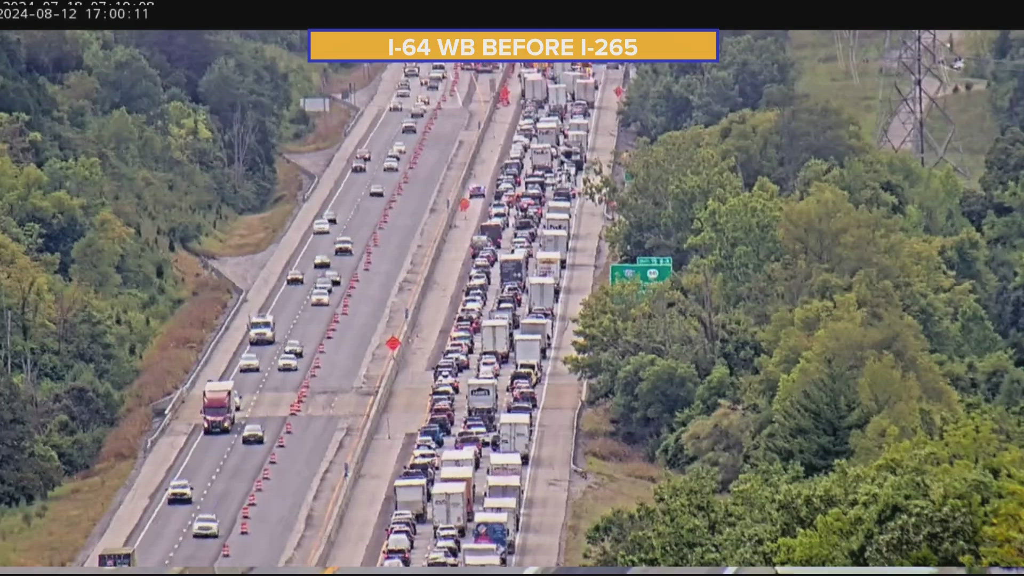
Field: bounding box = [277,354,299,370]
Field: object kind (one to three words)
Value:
car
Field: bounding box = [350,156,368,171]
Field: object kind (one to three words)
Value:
vehicle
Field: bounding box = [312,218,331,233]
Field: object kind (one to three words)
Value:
car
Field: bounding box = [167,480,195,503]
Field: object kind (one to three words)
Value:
truck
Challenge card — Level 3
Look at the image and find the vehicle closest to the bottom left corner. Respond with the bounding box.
[96,546,136,576]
